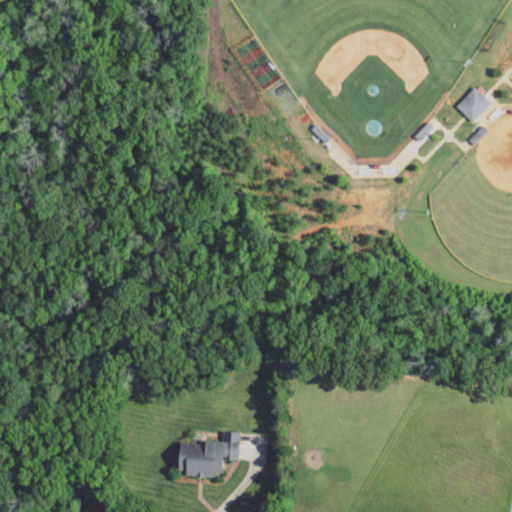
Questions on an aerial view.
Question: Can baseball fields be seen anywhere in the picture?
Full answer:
Yes, looking at the shot, I can spot a baseball field.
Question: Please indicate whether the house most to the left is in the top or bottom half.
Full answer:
The house most to the left sits in the bottom half of the picture.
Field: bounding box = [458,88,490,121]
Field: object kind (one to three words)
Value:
building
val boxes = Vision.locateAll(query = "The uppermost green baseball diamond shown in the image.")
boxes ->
[232,0,510,166]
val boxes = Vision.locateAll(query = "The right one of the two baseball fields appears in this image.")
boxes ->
[430,112,512,282]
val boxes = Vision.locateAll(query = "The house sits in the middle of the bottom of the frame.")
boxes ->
[179,432,241,480]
